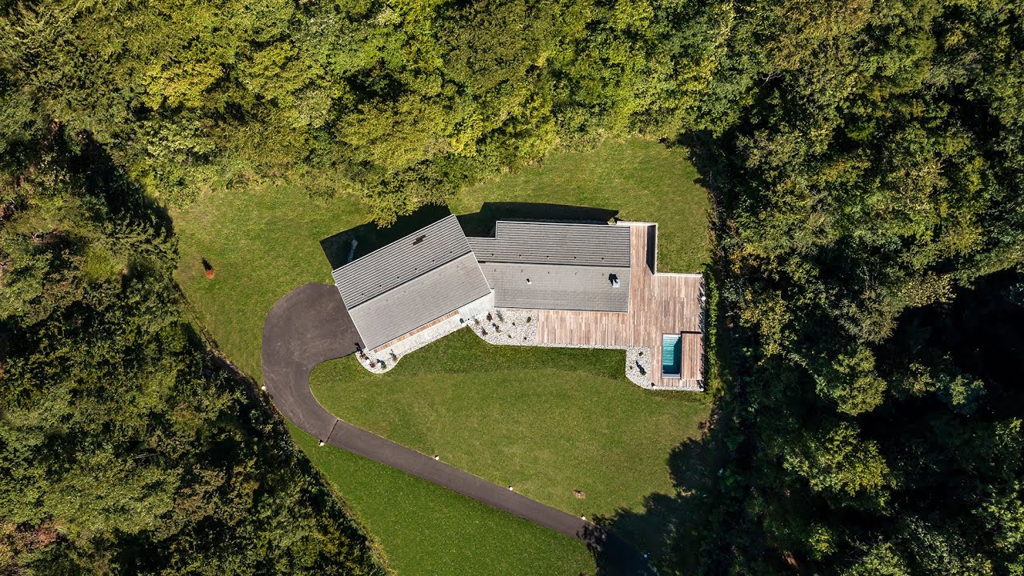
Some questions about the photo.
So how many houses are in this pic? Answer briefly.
1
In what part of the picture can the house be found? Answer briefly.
center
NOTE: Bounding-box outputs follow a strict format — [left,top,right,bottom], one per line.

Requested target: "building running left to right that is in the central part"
[331,212,631,350]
